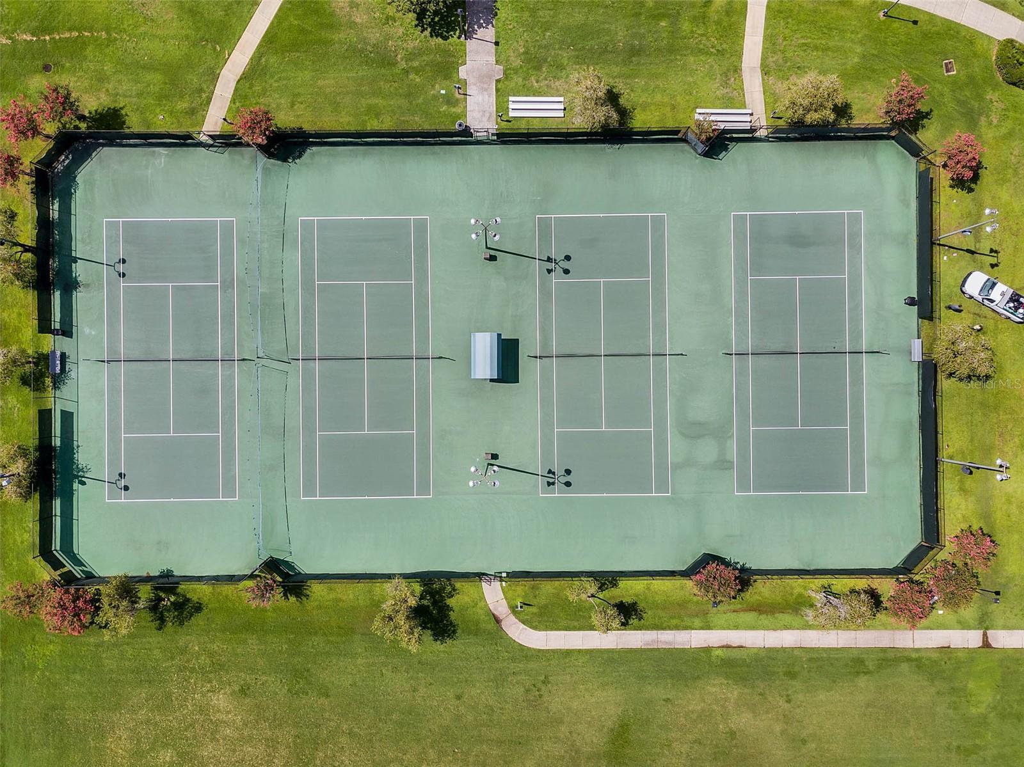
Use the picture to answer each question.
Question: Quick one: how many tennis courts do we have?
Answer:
4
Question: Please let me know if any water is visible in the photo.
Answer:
No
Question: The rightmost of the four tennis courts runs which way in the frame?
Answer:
vertically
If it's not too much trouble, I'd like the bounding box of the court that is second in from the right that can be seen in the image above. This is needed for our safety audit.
[536,214,671,496]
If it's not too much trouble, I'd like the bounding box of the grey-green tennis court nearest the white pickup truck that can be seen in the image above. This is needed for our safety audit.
[732,210,867,495]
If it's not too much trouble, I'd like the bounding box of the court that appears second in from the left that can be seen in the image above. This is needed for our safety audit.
[299,216,432,499]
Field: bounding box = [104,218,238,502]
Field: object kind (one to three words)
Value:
tennis court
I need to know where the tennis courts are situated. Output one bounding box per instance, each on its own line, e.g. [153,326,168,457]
[299,216,432,499]
[732,210,867,495]
[104,218,238,502]
[536,214,671,496]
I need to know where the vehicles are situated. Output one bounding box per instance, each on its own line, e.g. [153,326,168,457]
[958,268,1024,319]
